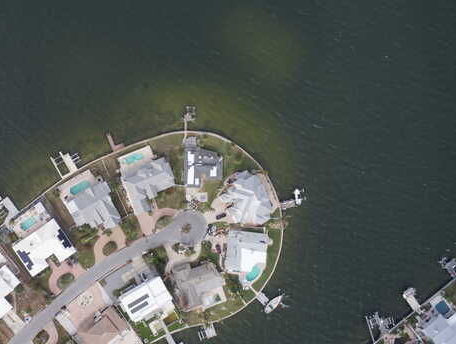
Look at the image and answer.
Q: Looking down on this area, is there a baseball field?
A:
No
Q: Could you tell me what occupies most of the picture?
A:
water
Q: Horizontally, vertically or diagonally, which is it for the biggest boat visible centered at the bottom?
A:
diagonally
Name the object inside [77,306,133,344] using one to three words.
house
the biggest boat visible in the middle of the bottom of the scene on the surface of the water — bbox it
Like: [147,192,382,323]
[264,295,284,315]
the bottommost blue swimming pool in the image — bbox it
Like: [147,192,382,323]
[434,300,452,316]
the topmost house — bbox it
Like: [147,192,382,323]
[185,148,222,186]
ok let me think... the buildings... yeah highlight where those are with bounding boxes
[173,263,225,311]
[185,148,222,186]
[124,158,177,215]
[13,219,76,277]
[423,312,456,344]
[226,230,268,273]
[222,171,271,230]
[120,275,174,323]
[77,306,133,344]
[0,265,21,319]
[68,181,120,235]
